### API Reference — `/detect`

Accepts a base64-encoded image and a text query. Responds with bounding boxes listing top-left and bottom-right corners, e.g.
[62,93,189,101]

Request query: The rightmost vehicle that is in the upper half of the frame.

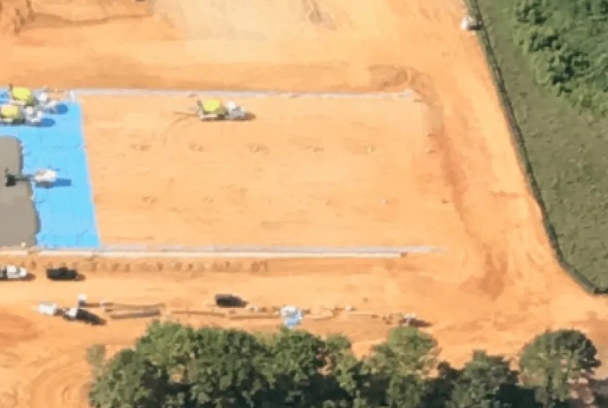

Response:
[190,97,244,120]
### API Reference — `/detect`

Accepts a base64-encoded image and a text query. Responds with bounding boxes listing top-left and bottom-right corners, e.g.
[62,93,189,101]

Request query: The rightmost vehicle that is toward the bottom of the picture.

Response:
[213,294,242,309]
